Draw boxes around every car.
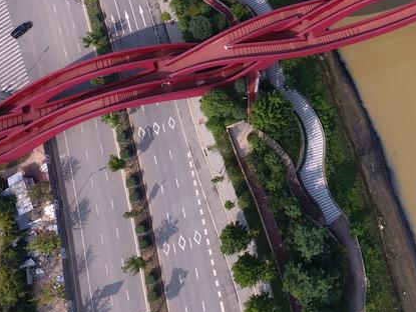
[11,20,32,39]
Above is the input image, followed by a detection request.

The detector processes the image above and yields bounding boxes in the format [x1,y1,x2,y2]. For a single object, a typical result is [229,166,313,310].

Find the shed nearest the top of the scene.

[7,171,31,192]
